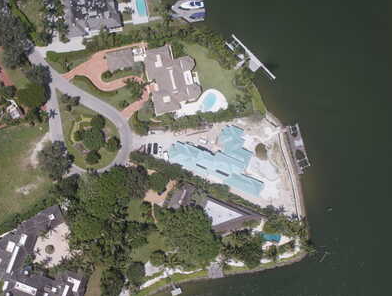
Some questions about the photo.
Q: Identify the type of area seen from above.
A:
residential area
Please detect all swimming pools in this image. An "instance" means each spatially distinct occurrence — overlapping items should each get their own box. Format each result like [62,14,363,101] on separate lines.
[135,0,149,17]
[261,232,281,243]
[203,92,217,111]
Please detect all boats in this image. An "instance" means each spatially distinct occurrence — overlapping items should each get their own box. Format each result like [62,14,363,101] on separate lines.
[189,12,207,19]
[180,0,206,8]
